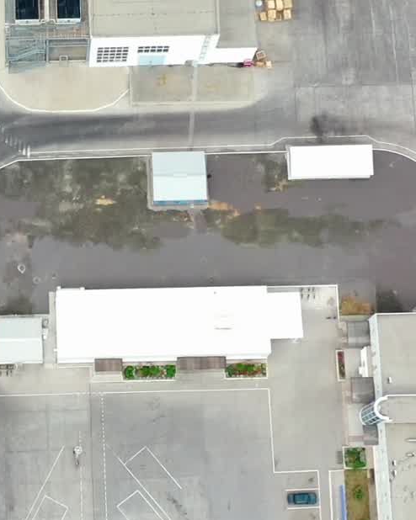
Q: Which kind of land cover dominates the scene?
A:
paved ground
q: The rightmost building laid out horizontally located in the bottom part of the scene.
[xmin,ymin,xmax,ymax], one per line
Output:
[54,285,305,363]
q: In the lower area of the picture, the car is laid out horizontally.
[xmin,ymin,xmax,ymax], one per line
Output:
[285,491,315,505]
